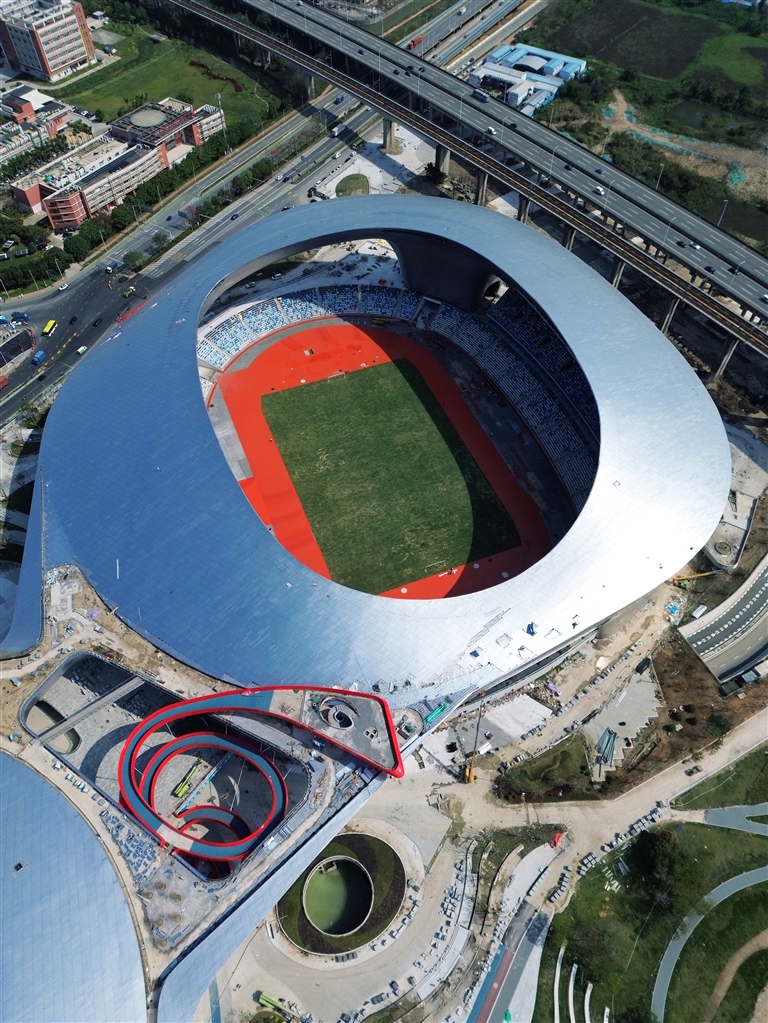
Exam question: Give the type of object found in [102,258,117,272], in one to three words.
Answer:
vehicle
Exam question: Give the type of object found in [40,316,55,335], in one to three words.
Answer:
vehicle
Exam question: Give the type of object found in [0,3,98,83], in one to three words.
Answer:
building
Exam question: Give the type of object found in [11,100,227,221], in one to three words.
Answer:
building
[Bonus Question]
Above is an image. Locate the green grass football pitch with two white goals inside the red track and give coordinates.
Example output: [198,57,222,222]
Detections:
[262,359,521,595]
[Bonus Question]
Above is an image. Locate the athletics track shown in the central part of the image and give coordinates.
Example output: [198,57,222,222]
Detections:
[215,325,552,598]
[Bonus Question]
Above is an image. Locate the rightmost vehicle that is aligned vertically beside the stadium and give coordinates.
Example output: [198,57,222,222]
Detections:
[463,700,482,785]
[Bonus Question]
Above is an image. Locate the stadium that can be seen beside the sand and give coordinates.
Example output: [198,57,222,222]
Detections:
[43,195,732,739]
